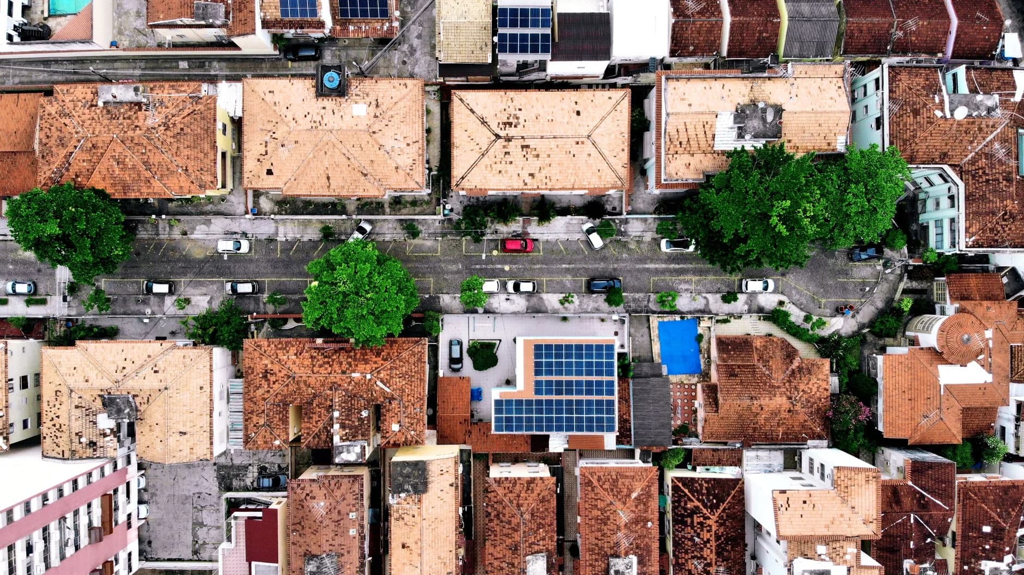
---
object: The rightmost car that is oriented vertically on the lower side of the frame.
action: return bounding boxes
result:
[448,338,464,371]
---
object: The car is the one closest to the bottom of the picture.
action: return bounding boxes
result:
[136,503,154,519]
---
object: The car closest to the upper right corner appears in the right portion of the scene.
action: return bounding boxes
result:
[848,247,879,262]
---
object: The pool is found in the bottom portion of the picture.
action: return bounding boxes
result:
[656,317,704,377]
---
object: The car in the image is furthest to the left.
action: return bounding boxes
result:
[7,280,38,295]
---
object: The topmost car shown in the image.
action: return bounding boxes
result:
[286,45,320,62]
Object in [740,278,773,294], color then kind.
white car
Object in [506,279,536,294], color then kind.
white car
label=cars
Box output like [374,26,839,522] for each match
[219,240,250,254]
[506,279,536,294]
[7,280,38,295]
[136,503,154,519]
[286,45,320,62]
[257,474,281,489]
[136,474,151,489]
[661,237,694,253]
[228,280,258,295]
[588,277,621,292]
[848,247,879,262]
[347,218,373,244]
[448,338,464,371]
[145,280,176,295]
[581,221,604,250]
[740,278,773,294]
[477,279,503,294]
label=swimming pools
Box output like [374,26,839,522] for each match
[45,0,90,18]
[656,317,704,377]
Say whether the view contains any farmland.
No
